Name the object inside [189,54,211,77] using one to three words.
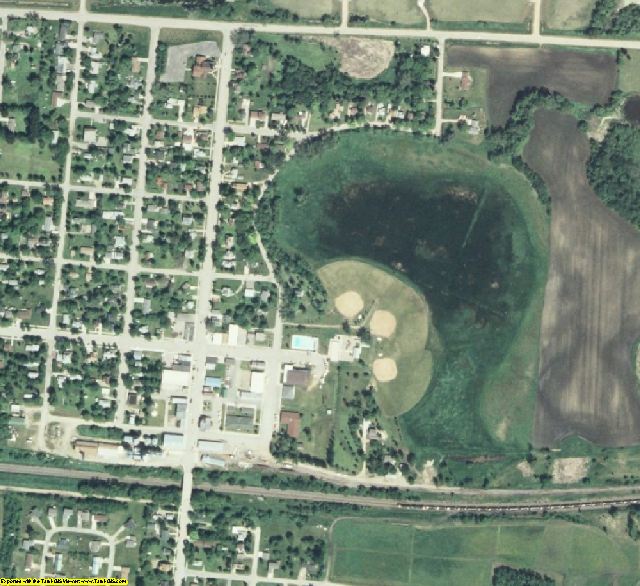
building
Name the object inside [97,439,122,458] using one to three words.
building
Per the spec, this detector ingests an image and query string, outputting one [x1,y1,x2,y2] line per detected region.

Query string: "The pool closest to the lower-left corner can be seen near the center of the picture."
[291,335,318,351]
